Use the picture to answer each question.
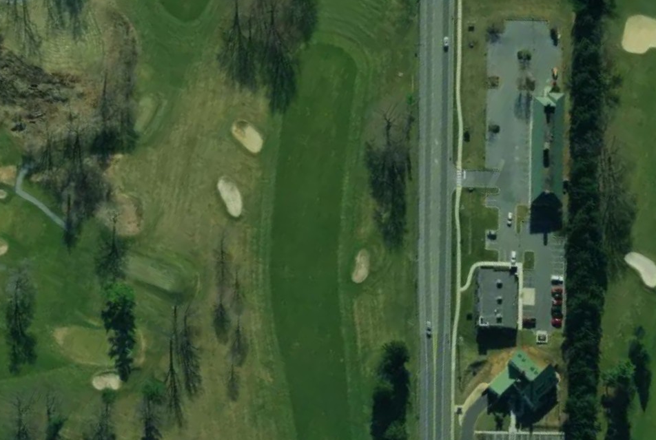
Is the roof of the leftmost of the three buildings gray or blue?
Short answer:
gray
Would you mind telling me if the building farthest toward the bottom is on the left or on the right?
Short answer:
right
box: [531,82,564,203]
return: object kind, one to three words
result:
building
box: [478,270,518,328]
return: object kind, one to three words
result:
building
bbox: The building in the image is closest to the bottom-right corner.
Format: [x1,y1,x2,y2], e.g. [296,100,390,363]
[489,349,564,412]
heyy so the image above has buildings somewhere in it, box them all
[531,82,564,203]
[478,270,518,328]
[489,349,564,412]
